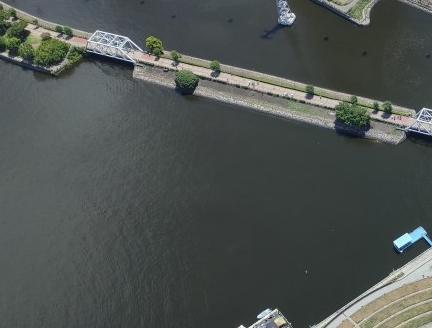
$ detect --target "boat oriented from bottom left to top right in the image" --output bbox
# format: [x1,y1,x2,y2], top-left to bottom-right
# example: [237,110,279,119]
[253,307,273,321]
